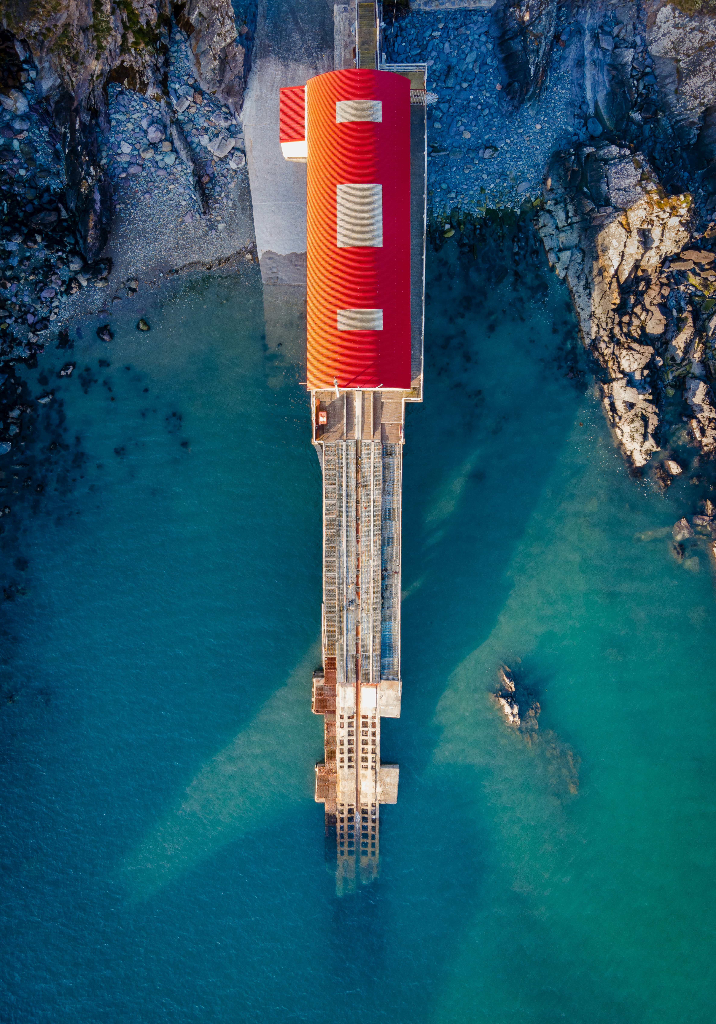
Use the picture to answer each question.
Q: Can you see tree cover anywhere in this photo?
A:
No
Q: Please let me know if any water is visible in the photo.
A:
Yes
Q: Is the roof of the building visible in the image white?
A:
No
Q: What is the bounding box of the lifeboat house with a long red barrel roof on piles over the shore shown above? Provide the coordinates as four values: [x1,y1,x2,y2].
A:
[279,69,410,392]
